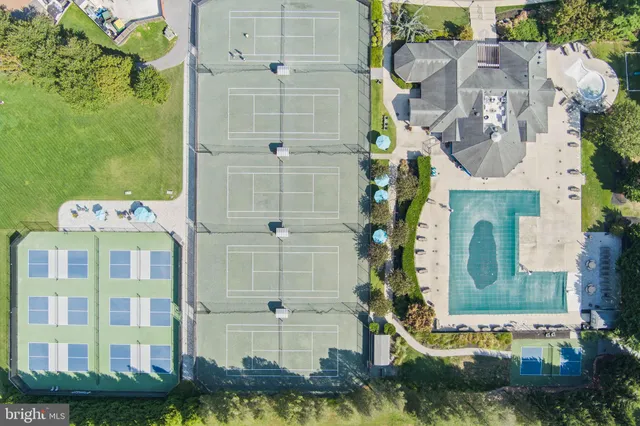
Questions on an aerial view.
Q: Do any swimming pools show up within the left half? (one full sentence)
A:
No, I see no swimming pool within the left half.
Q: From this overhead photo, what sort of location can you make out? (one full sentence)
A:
It's a sports ground.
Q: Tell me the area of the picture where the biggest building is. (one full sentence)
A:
The biggest building is in the top right part of the image.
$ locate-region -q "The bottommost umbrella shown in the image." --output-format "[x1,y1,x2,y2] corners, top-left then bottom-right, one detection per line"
[372,229,386,243]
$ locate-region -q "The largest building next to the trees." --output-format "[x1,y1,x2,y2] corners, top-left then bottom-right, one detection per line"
[394,41,555,179]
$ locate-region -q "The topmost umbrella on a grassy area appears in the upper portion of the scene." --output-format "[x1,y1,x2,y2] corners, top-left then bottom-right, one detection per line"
[376,136,390,150]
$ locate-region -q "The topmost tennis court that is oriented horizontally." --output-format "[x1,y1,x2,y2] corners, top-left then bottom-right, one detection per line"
[198,0,371,73]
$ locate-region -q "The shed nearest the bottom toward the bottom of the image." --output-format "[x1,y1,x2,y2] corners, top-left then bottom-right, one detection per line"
[375,334,391,366]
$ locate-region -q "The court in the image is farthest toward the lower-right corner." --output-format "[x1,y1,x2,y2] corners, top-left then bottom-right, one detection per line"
[510,340,598,387]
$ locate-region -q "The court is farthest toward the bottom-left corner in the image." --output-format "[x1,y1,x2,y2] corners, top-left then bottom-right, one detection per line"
[17,334,98,391]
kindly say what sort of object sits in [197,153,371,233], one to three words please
tennis court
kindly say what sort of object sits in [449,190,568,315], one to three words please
swimming pool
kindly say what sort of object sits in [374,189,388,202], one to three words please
umbrella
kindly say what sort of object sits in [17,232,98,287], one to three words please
sports court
